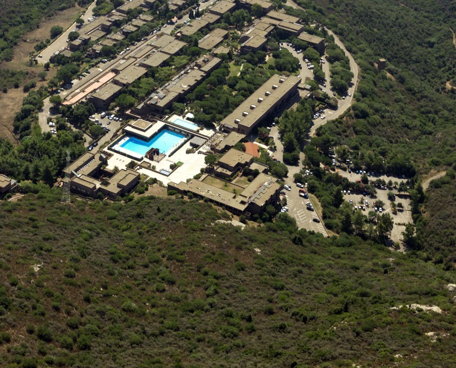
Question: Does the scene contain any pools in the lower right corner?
No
